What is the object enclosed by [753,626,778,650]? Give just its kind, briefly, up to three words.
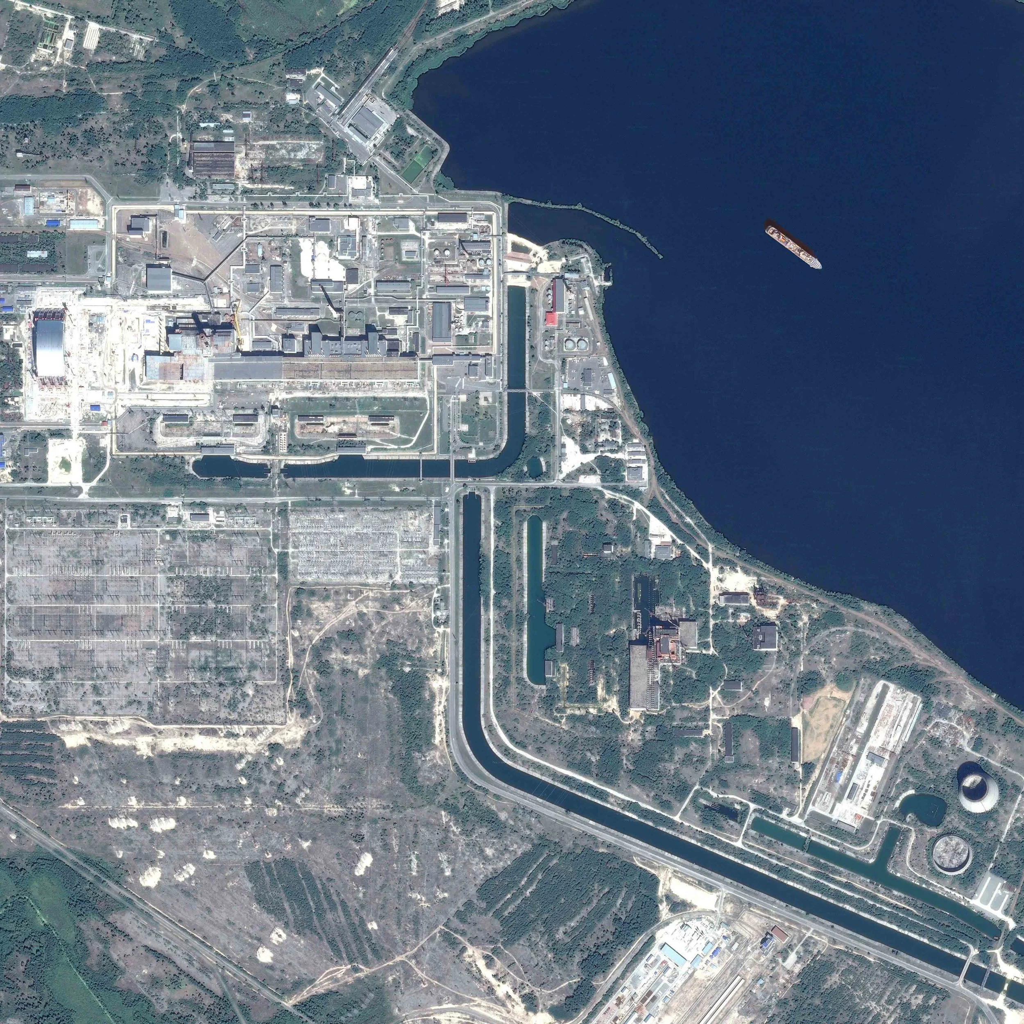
building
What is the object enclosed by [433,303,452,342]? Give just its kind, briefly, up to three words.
building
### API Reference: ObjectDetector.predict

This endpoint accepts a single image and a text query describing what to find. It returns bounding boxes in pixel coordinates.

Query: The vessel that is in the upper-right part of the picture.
[765,227,822,269]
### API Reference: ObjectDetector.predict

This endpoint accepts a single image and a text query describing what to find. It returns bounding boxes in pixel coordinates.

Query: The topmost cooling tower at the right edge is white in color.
[957,771,1000,814]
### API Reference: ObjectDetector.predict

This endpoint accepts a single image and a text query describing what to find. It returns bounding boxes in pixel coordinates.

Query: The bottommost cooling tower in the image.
[931,832,974,875]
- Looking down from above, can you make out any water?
Yes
